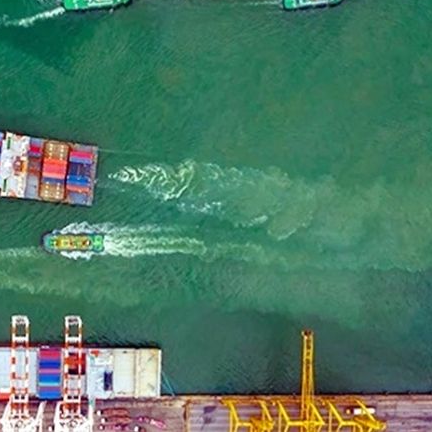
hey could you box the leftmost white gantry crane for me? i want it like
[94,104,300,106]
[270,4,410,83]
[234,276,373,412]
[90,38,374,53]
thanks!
[0,313,46,432]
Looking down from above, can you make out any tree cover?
No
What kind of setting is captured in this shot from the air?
port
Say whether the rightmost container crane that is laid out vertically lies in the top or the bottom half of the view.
bottom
